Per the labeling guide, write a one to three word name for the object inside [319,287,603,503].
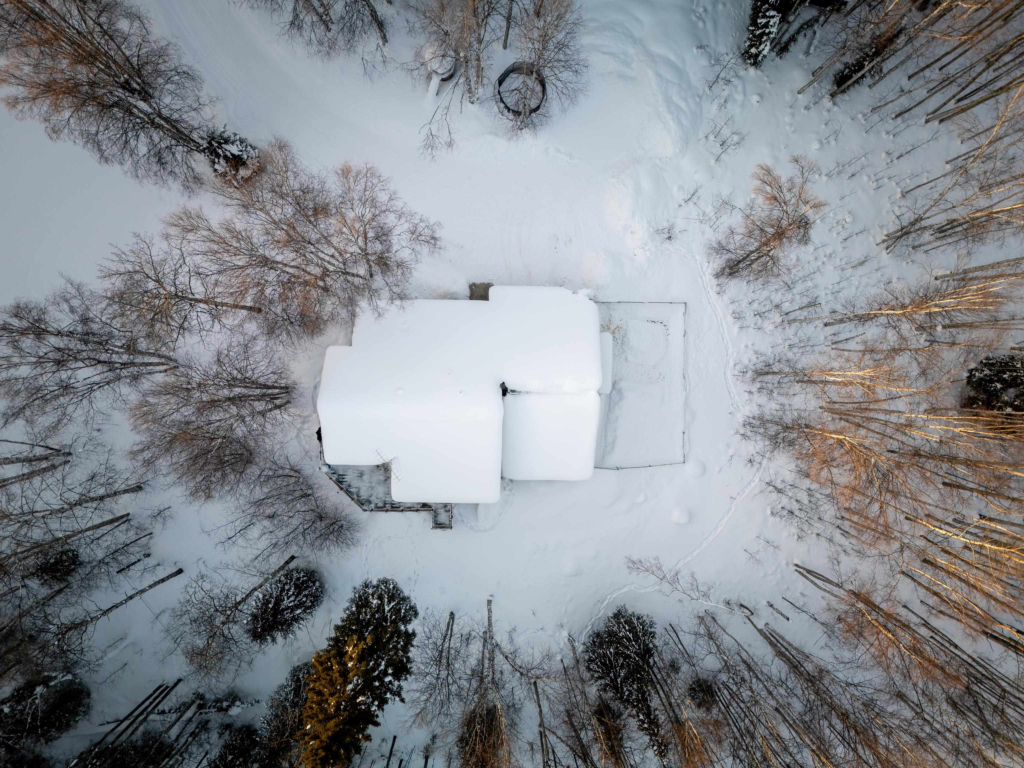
house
